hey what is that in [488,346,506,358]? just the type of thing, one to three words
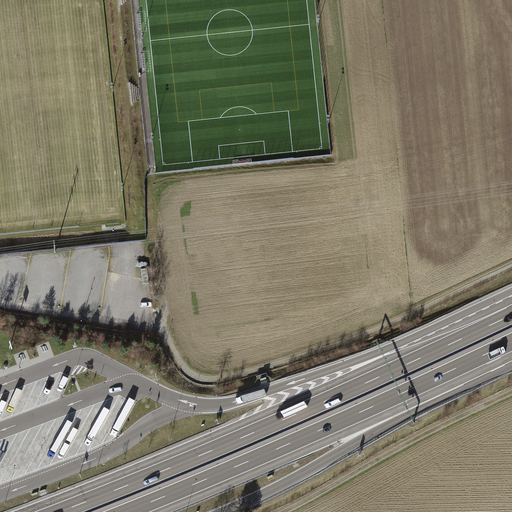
vehicle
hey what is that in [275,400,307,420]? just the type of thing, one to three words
vehicle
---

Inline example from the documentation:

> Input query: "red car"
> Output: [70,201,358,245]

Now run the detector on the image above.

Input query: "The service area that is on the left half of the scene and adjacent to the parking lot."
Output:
[0,342,304,502]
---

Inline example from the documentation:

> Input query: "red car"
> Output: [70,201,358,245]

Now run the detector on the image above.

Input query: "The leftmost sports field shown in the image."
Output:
[0,0,126,235]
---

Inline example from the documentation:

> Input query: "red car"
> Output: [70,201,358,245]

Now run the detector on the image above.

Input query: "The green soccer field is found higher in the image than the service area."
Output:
[138,0,330,170]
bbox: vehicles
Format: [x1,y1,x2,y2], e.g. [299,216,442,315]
[504,314,512,321]
[234,389,266,406]
[109,386,122,392]
[108,398,134,438]
[140,302,152,307]
[406,388,417,396]
[143,474,158,484]
[275,400,307,420]
[324,398,341,408]
[488,346,506,358]
[6,388,22,412]
[56,376,69,392]
[432,374,444,382]
[46,420,72,458]
[57,427,78,460]
[83,407,109,446]
[322,424,332,432]
[42,382,54,396]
